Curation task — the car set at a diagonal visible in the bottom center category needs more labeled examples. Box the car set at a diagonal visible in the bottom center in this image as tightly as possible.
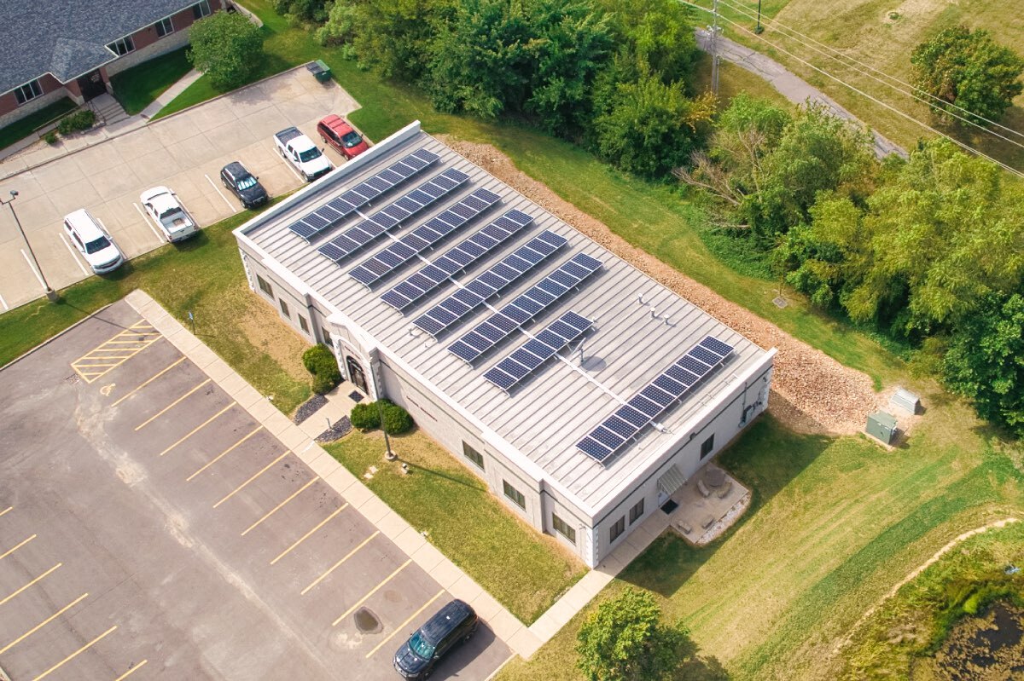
[386,596,479,681]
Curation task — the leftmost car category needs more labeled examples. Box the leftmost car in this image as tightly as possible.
[63,208,120,269]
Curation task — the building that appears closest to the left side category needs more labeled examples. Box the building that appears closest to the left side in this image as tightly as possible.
[0,0,221,138]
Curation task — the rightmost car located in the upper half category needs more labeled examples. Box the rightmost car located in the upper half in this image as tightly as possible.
[314,108,370,159]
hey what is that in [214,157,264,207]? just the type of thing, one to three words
car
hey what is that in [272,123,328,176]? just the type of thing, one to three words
truck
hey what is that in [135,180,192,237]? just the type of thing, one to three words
truck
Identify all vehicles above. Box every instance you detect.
[314,108,370,159]
[272,123,328,176]
[135,180,192,237]
[214,157,264,207]
[63,208,120,269]
[386,596,479,681]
